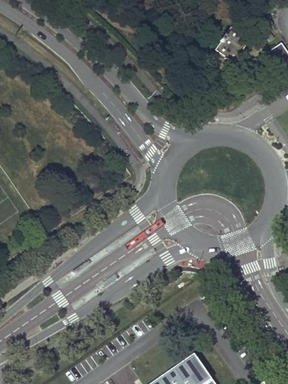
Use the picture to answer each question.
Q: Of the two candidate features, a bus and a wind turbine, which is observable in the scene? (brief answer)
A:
bus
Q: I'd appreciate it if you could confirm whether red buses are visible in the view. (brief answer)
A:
Yes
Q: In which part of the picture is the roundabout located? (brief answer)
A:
right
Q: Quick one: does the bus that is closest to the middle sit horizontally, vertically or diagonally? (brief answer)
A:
diagonally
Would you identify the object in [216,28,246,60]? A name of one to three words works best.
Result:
shed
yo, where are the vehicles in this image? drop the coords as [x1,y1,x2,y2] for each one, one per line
[144,319,154,329]
[66,372,76,382]
[108,343,117,354]
[208,248,218,253]
[37,31,46,40]
[133,326,143,336]
[72,368,81,378]
[125,219,166,250]
[178,247,190,254]
[117,336,126,346]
